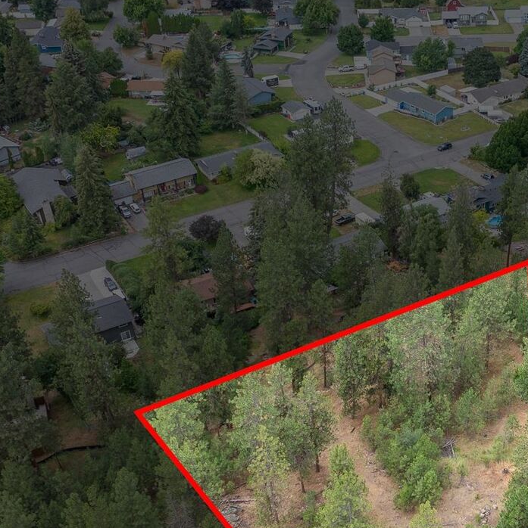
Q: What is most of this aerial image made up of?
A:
trees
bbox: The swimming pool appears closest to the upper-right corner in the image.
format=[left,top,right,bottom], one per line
[485,210,504,227]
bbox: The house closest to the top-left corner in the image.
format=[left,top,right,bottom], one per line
[9,12,47,39]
